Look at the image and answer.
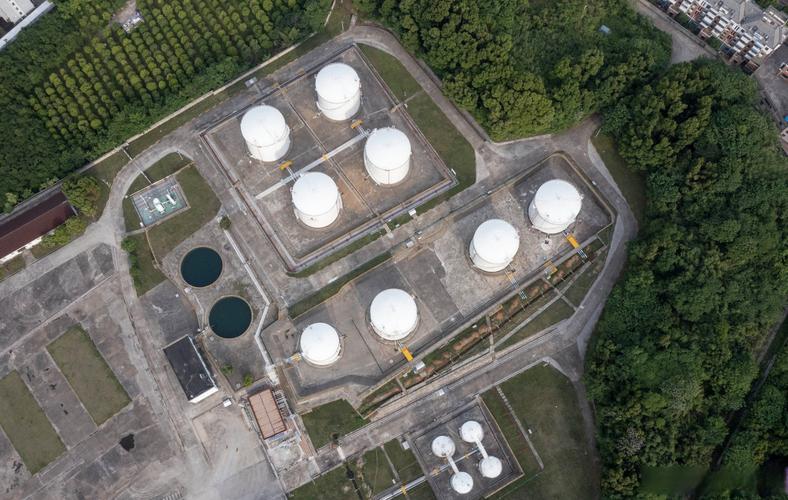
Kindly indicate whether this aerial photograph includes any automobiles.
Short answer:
No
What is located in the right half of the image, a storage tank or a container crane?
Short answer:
storage tank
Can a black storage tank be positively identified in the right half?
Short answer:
No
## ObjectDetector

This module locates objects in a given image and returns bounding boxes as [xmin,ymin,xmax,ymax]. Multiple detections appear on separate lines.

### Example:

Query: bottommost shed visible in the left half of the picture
[247,388,287,440]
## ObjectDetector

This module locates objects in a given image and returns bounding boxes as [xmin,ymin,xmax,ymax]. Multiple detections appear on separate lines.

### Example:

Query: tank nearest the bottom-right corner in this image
[474,451,504,482]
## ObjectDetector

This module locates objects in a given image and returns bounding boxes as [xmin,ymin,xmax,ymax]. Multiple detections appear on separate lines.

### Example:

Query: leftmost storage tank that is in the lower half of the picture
[299,321,347,369]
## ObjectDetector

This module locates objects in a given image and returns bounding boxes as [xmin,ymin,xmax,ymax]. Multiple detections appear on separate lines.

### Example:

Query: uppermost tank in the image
[316,63,365,122]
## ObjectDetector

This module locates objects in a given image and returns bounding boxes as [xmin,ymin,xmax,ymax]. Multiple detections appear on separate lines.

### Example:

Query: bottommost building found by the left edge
[0,193,79,262]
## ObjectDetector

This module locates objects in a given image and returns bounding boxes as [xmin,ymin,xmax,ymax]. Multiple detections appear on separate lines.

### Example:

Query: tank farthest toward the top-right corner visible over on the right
[523,180,582,238]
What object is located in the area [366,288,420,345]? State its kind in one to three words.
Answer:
storage tank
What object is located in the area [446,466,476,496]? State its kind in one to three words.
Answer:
storage tank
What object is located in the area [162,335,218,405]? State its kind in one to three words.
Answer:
building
